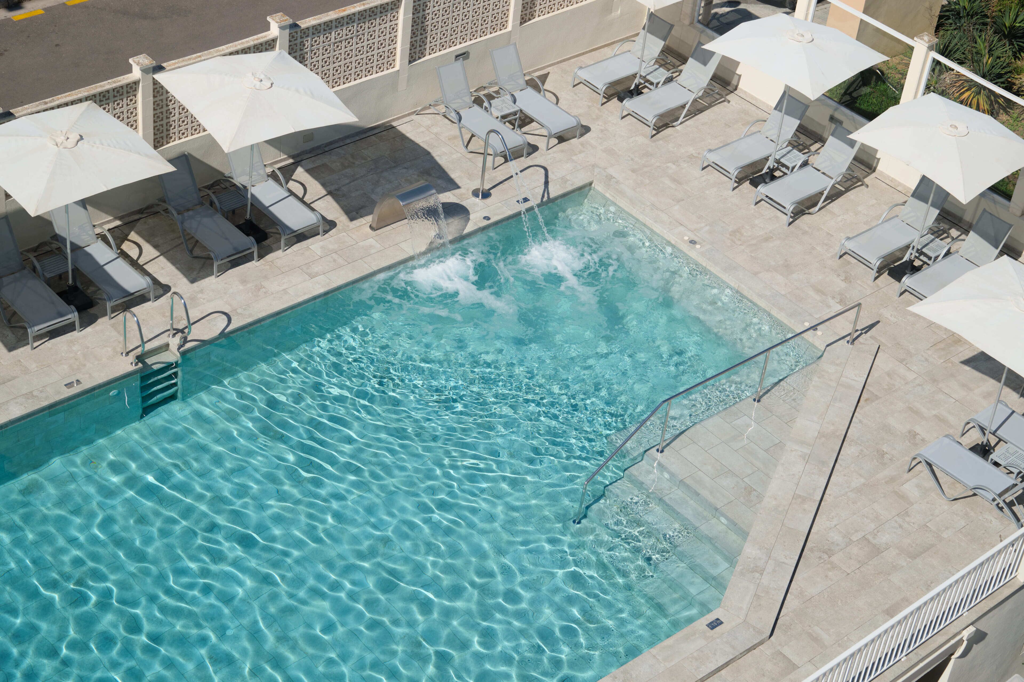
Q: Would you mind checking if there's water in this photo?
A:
Yes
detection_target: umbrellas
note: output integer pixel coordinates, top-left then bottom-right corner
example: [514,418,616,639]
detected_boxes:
[847,92,1024,279]
[617,0,665,98]
[905,258,1024,469]
[0,103,175,307]
[701,11,890,184]
[154,49,359,238]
